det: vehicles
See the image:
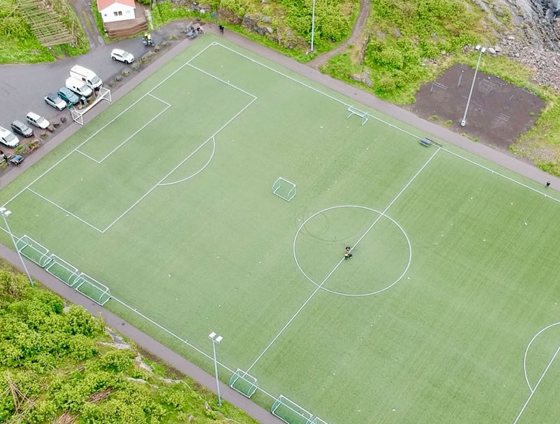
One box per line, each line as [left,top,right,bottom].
[9,153,26,167]
[147,35,155,46]
[142,34,149,44]
[0,127,19,149]
[110,49,135,66]
[43,93,68,112]
[66,76,94,99]
[57,86,80,104]
[26,111,50,131]
[9,119,35,140]
[70,63,103,92]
